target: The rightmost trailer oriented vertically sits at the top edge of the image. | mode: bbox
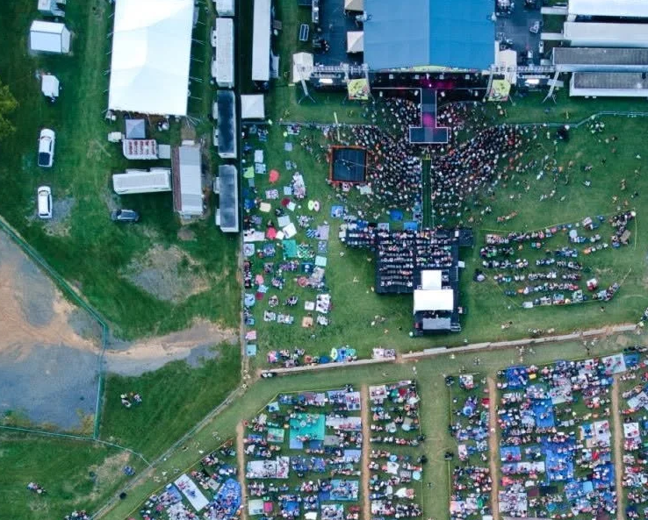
[251,0,278,87]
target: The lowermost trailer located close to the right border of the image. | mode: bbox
[571,75,648,102]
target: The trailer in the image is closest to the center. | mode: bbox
[216,166,241,235]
